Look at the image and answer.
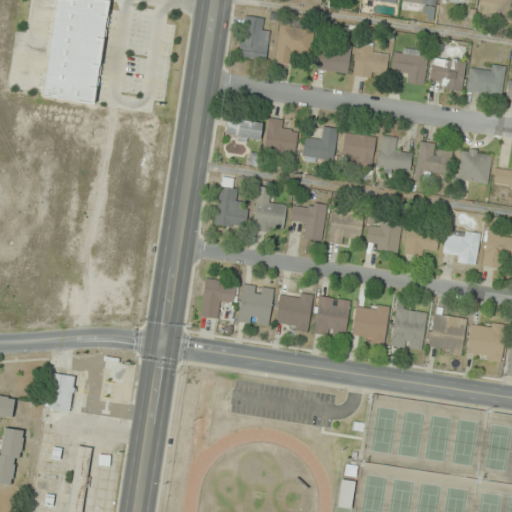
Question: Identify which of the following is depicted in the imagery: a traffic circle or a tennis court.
tennis court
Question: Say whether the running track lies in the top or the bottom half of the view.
bottom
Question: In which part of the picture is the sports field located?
bottom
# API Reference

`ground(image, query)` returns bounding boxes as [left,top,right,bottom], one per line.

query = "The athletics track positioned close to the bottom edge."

[181,427,334,512]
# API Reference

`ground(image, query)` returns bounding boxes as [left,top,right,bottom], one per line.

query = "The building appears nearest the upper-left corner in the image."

[45,0,112,106]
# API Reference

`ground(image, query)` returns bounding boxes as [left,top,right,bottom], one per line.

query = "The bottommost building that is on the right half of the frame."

[338,480,356,510]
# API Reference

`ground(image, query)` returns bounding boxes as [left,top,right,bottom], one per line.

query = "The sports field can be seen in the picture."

[196,442,318,512]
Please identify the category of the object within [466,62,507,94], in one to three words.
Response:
house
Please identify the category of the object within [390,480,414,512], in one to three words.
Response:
tennis court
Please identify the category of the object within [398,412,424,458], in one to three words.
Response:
tennis court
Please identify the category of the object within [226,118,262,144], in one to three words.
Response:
house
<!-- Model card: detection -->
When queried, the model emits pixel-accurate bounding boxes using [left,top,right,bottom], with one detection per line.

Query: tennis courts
[426,416,450,462]
[452,420,478,466]
[398,412,424,458]
[416,484,440,512]
[444,488,468,512]
[371,408,396,454]
[479,493,501,512]
[390,480,414,512]
[362,476,386,512]
[486,425,511,471]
